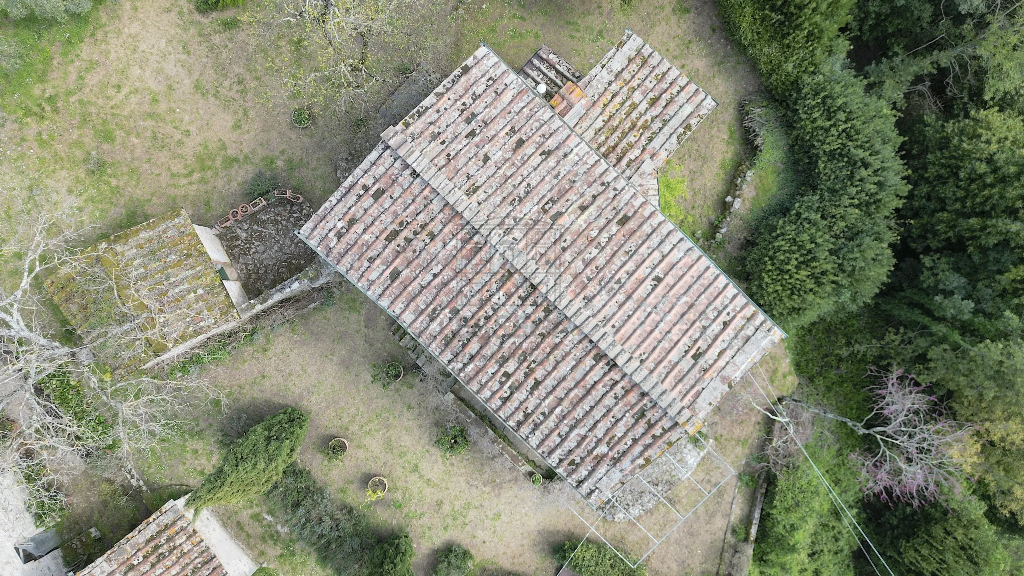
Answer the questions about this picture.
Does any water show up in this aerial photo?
No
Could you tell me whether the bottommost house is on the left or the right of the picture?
left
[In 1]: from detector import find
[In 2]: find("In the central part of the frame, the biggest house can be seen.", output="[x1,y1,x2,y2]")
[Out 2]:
[294,41,792,513]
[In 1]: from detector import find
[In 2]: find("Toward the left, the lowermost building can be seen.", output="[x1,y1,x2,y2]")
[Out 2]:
[63,492,272,576]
